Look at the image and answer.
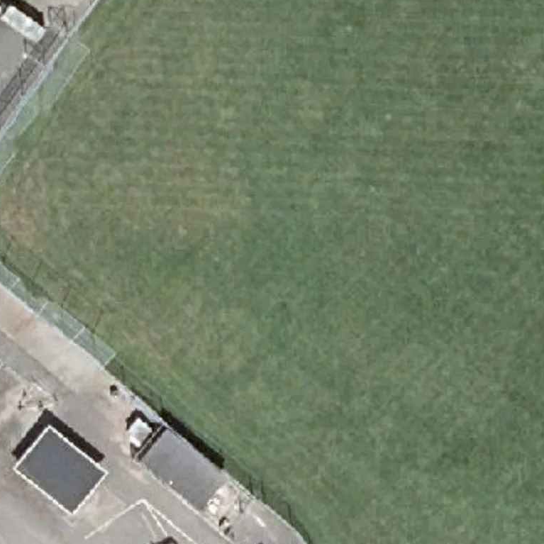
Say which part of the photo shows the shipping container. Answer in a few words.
top left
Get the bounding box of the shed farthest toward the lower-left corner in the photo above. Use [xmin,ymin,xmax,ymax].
[14,424,107,515]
